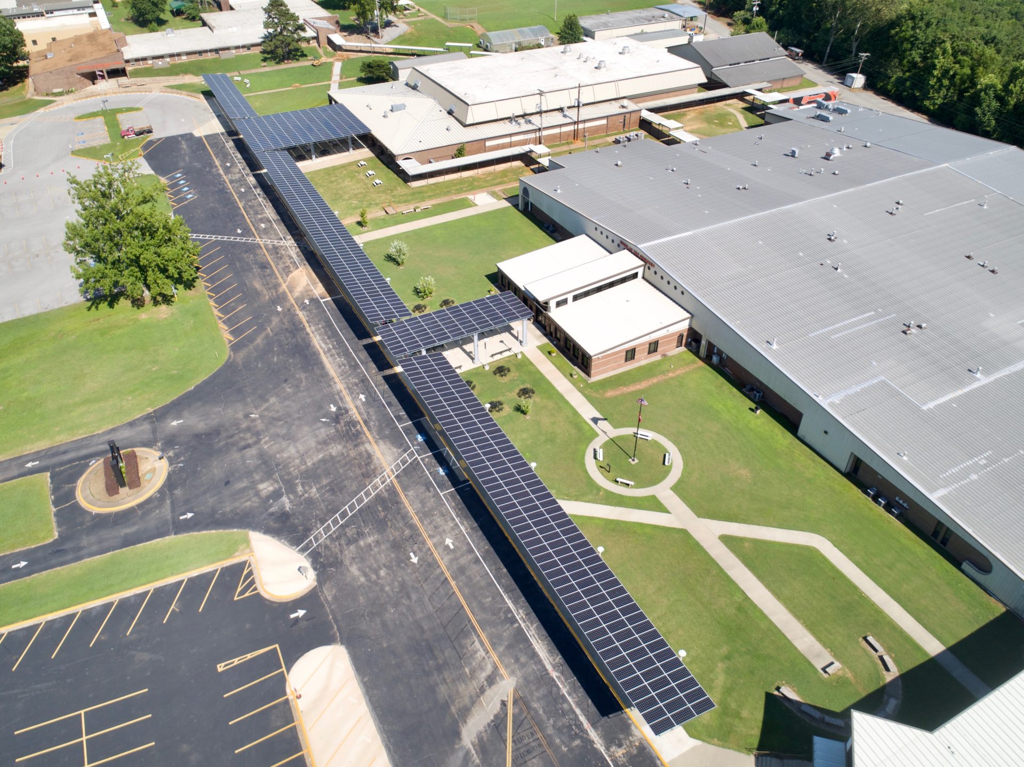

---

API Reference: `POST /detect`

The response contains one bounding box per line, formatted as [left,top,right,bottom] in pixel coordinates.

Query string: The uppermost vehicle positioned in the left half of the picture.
[311,53,331,65]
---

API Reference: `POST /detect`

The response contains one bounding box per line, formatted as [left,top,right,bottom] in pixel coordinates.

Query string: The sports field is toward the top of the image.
[328,0,682,47]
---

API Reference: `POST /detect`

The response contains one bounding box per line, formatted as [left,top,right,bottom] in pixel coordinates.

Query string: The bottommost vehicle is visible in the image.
[118,122,152,138]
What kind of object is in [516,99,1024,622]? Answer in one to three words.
building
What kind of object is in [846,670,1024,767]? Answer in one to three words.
building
